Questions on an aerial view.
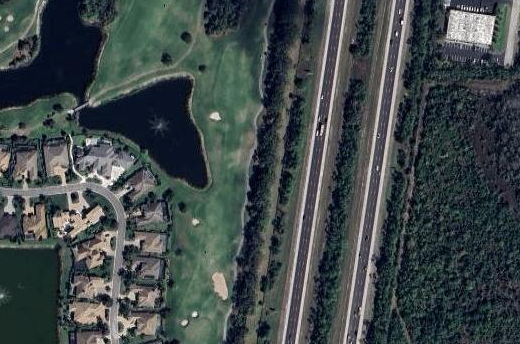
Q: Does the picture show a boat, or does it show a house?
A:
house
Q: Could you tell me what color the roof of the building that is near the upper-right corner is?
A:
white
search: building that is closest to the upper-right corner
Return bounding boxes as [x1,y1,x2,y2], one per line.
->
[447,10,497,45]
